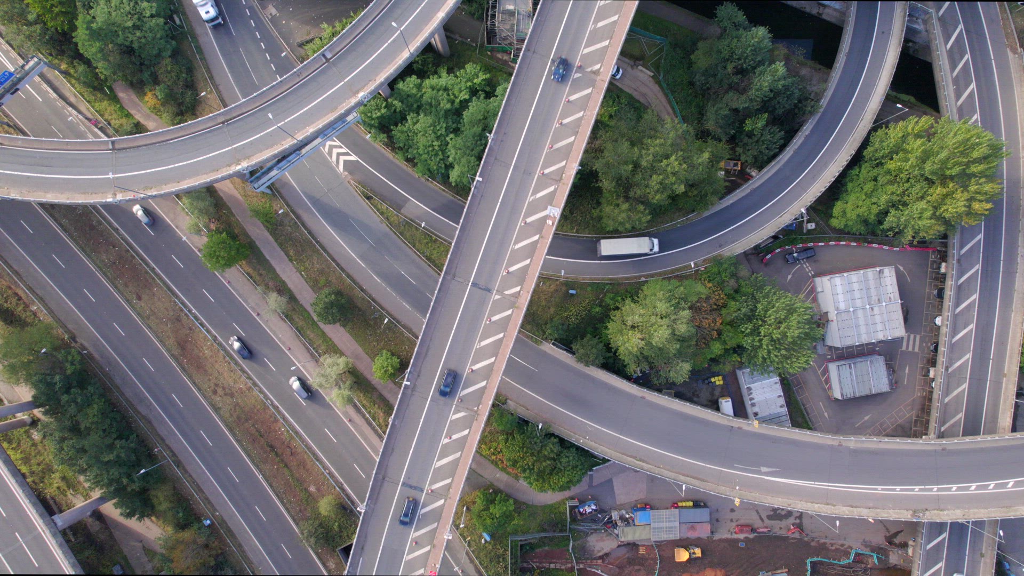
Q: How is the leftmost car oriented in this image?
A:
on a diagonal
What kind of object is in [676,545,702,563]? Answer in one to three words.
vehicle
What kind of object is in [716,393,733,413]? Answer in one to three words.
vehicle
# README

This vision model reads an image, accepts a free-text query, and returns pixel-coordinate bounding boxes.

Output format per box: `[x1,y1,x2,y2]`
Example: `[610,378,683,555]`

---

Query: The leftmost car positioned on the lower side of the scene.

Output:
[229,334,253,359]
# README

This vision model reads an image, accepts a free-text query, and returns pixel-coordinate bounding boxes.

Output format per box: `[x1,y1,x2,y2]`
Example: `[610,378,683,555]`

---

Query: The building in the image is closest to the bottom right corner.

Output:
[827,355,891,400]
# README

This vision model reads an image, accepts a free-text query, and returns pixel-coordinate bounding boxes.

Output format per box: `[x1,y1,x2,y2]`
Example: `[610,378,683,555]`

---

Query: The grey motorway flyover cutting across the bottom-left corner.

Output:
[0,433,93,576]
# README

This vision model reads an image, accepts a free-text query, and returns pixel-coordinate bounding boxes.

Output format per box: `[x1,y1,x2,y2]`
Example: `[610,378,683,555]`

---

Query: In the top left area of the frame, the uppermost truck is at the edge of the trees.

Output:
[193,0,227,34]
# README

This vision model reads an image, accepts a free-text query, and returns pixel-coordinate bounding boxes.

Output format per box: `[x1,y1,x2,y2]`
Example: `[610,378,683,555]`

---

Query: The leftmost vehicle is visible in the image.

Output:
[131,202,155,227]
